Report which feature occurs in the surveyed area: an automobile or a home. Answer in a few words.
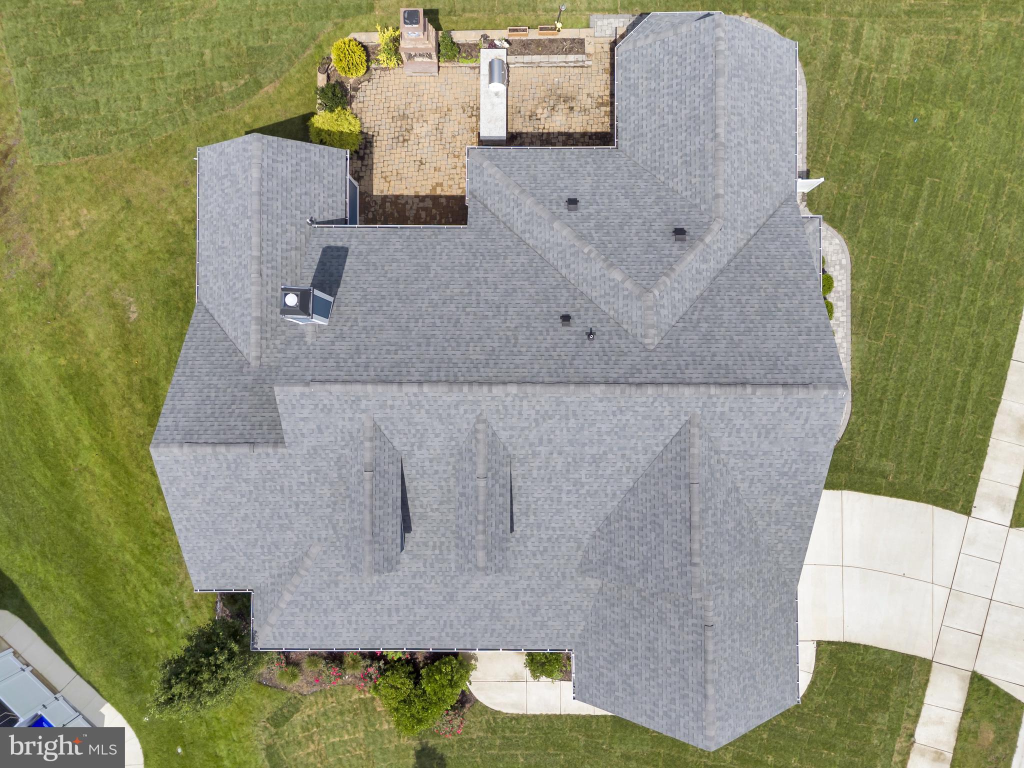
home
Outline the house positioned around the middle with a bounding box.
[150,12,848,751]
